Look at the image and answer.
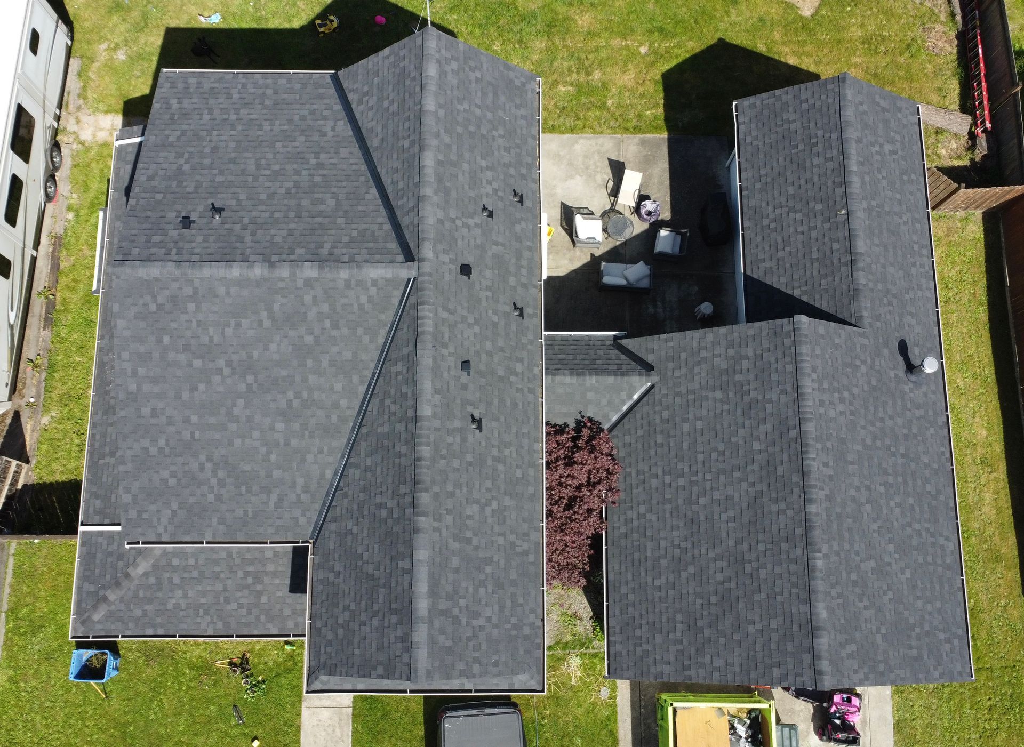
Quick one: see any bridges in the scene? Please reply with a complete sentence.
No, the picture doesn't show any bridge.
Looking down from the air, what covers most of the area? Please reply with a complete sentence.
Most of the picture is covered by buildings.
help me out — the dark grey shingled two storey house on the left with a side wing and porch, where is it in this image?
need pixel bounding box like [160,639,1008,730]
[67,0,546,695]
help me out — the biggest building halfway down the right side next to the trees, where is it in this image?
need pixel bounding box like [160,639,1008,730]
[601,78,973,688]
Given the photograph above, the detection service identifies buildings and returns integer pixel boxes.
[601,78,973,688]
[67,0,546,695]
